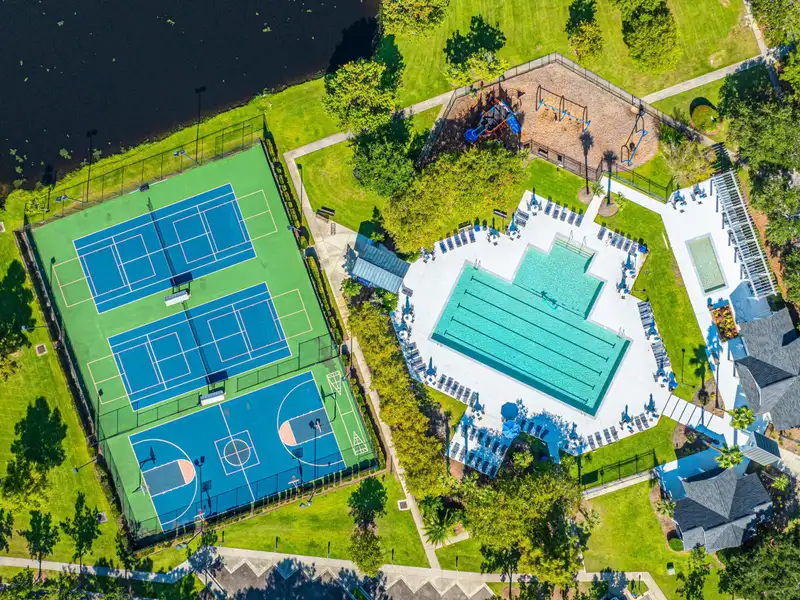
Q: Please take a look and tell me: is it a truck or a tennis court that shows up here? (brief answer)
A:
tennis court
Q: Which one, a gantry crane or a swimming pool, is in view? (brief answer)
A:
swimming pool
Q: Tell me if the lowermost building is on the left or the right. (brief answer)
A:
right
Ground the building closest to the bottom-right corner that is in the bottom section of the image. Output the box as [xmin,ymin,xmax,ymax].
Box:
[673,468,776,555]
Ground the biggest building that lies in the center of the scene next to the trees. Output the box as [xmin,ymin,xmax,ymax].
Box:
[352,244,410,295]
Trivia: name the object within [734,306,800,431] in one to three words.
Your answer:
building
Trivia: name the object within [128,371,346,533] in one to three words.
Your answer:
basketball court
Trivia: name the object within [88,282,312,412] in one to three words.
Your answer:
tennis court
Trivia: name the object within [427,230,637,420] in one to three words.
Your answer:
swimming pool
